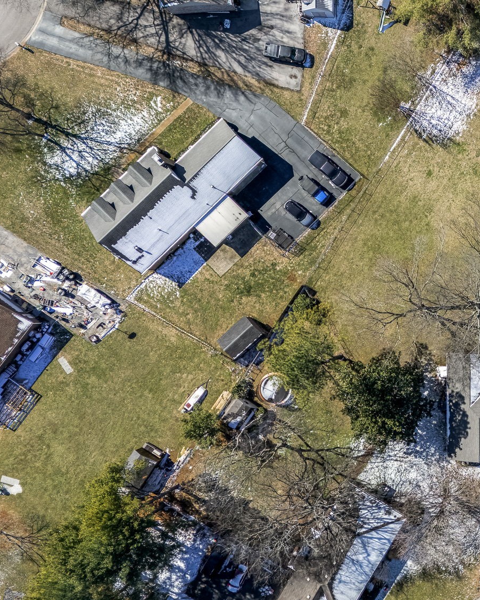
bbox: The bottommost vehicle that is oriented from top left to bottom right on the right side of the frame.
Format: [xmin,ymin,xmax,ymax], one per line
[284,197,319,232]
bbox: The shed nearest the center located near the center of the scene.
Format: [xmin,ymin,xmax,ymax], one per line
[217,317,266,360]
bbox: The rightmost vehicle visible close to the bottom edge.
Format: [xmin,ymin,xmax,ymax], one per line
[224,559,250,598]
